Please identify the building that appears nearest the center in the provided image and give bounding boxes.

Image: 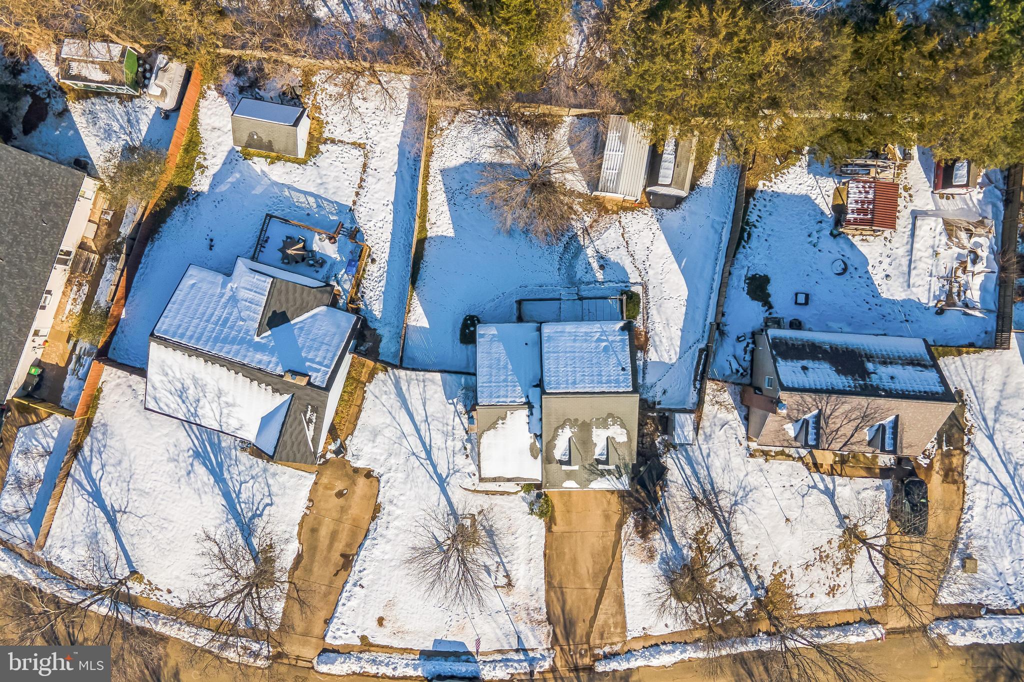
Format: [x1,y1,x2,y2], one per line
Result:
[467,320,639,492]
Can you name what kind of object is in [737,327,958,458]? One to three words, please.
house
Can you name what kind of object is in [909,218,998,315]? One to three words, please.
greenhouse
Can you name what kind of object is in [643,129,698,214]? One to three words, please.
shed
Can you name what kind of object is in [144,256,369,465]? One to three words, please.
house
